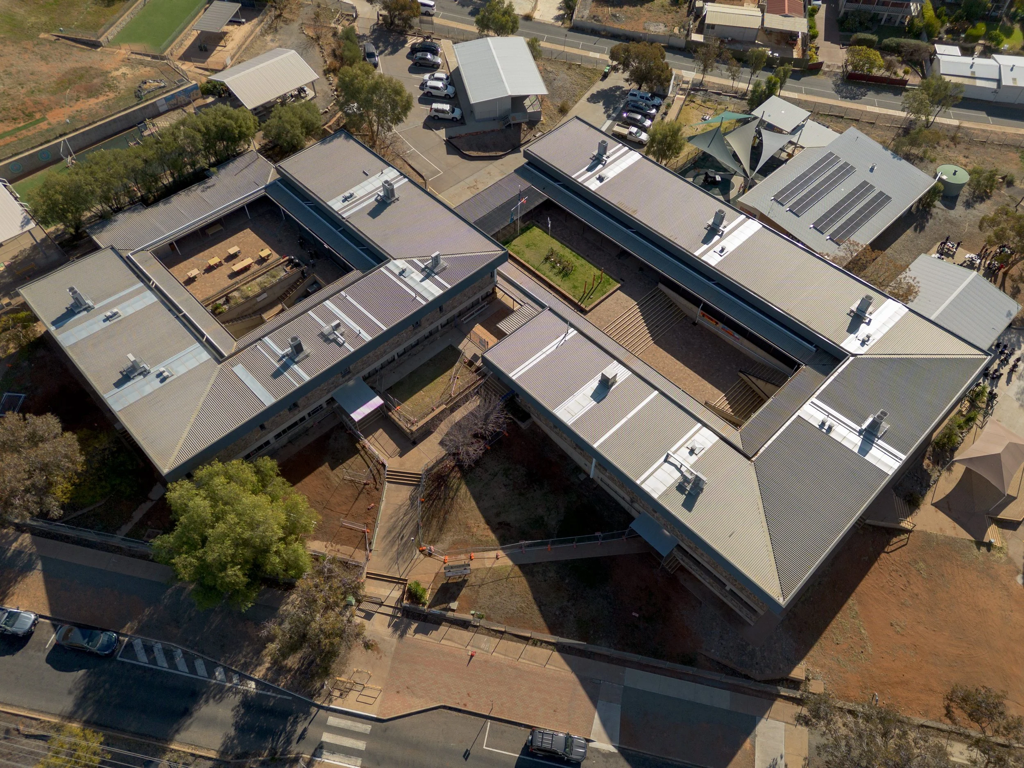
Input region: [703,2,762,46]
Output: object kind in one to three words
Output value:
shed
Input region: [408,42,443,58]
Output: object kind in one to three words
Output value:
car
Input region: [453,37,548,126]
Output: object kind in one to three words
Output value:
building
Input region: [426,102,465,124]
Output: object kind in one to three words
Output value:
car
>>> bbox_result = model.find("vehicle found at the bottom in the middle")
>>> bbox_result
[524,726,589,764]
